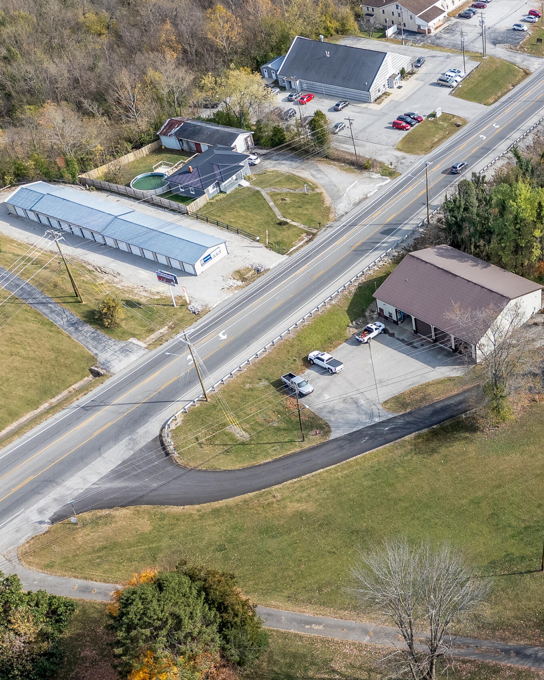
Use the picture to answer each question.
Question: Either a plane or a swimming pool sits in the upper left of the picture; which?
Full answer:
Visible in the upper left of the picture is a swimming pool.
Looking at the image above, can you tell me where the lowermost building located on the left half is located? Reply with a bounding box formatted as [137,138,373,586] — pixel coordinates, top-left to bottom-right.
[7,179,228,273]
